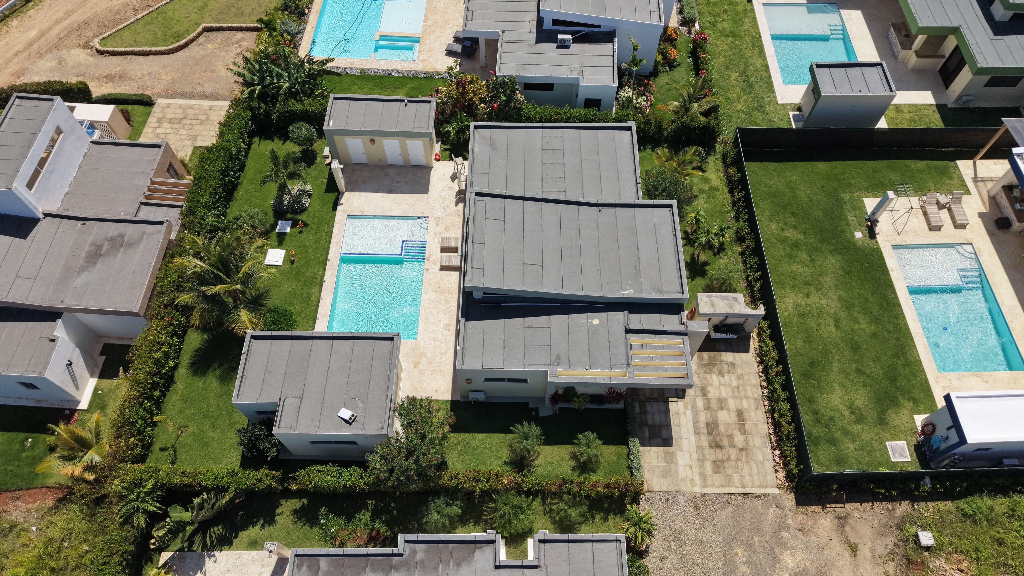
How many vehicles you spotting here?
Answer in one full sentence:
No vehicles are visible.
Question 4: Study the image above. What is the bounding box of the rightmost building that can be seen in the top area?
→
[988,145,1024,196]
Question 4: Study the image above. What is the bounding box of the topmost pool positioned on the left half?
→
[309,0,426,57]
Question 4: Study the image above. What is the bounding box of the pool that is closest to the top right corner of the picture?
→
[762,2,859,84]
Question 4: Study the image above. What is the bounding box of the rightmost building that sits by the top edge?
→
[899,0,1024,109]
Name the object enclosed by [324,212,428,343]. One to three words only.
swimming pool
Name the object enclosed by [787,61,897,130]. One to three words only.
shed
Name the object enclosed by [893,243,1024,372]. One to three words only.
swimming pool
